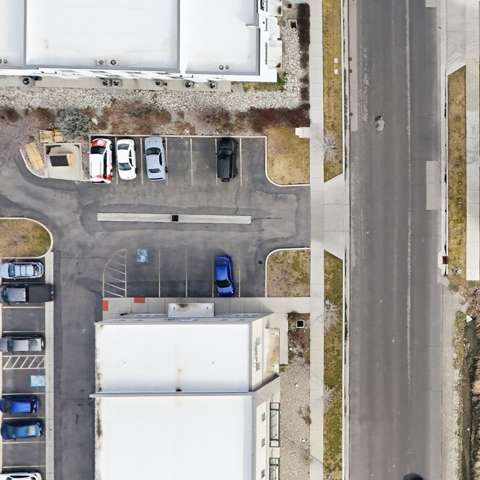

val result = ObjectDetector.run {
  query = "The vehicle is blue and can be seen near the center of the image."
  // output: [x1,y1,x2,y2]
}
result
[214,256,236,296]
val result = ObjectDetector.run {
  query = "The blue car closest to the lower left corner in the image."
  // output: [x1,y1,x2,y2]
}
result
[2,420,46,441]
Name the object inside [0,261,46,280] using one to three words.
car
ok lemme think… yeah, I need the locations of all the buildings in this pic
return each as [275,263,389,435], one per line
[90,303,280,480]
[0,0,283,83]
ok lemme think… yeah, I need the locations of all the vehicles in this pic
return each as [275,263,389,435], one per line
[0,471,43,480]
[115,138,138,180]
[143,136,167,181]
[88,138,114,183]
[0,261,46,280]
[0,334,46,354]
[1,394,41,414]
[0,283,54,305]
[2,420,46,441]
[214,256,236,296]
[215,140,238,182]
